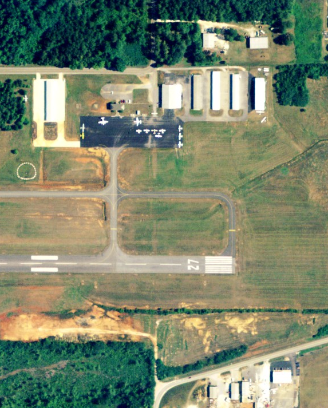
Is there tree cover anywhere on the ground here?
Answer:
Yes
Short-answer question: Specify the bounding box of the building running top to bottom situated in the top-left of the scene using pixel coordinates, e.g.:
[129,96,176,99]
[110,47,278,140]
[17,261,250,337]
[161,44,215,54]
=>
[46,81,59,121]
